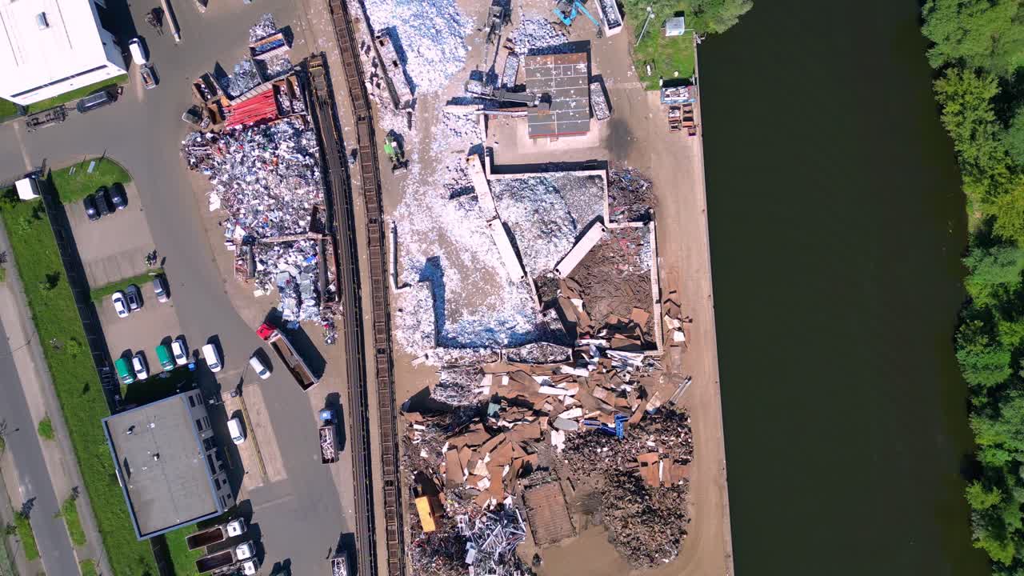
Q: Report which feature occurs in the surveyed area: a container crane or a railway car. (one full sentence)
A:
I can see a railway car in this picture.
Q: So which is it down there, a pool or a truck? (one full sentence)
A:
Visible in the photo is a truck.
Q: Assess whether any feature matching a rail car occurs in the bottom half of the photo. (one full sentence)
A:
Yes, a rail car appears in the bottom half of the photo.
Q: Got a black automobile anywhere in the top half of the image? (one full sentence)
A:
Yes, looking in the top half of the image, one can make out a black automobile.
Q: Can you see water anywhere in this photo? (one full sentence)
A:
Yes, there is water in the image.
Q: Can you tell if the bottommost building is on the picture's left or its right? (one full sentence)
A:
The bottommost building is on the left side of the image.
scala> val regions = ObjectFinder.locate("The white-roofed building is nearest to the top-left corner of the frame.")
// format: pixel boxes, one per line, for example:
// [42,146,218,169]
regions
[0,0,129,113]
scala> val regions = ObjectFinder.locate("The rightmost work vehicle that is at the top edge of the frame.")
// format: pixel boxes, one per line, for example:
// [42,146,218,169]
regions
[553,0,605,39]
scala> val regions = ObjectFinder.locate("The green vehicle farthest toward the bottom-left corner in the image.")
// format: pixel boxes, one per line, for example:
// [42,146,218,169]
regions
[113,355,134,383]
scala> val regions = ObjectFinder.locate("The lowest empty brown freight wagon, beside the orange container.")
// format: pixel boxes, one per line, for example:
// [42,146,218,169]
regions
[383,481,403,576]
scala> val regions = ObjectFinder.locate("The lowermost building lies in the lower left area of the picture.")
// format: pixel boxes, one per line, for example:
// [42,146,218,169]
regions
[102,386,238,540]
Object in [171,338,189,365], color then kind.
white car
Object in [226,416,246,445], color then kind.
white vehicle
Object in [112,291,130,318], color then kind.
white car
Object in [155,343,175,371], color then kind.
green vehicle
